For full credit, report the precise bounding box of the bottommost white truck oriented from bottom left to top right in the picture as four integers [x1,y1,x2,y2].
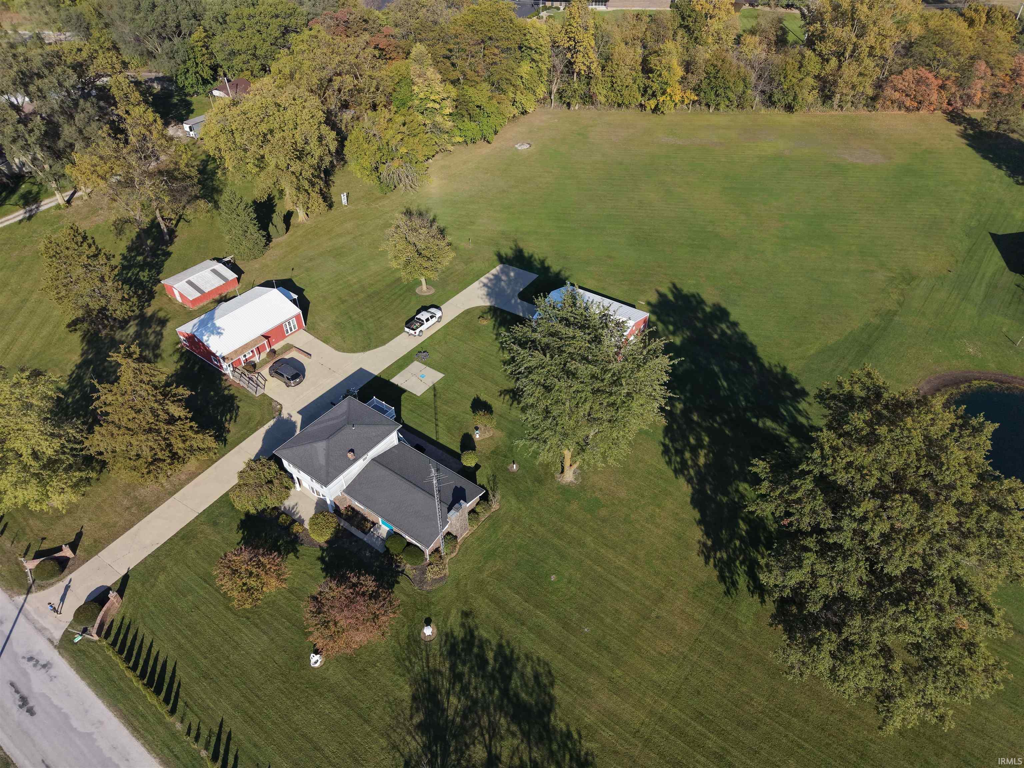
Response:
[404,308,445,338]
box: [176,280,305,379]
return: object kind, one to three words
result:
building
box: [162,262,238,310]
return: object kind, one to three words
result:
shed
